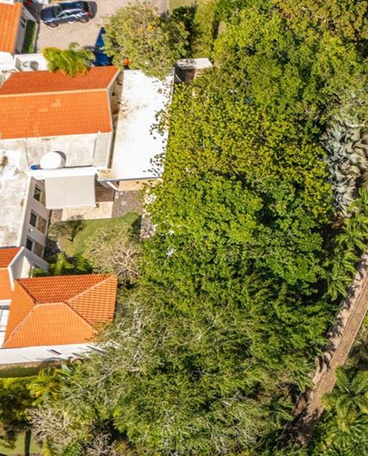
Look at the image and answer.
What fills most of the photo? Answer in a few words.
trees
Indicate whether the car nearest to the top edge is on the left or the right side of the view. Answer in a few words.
left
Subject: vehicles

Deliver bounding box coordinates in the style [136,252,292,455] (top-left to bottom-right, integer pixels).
[84,33,118,68]
[42,0,90,25]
